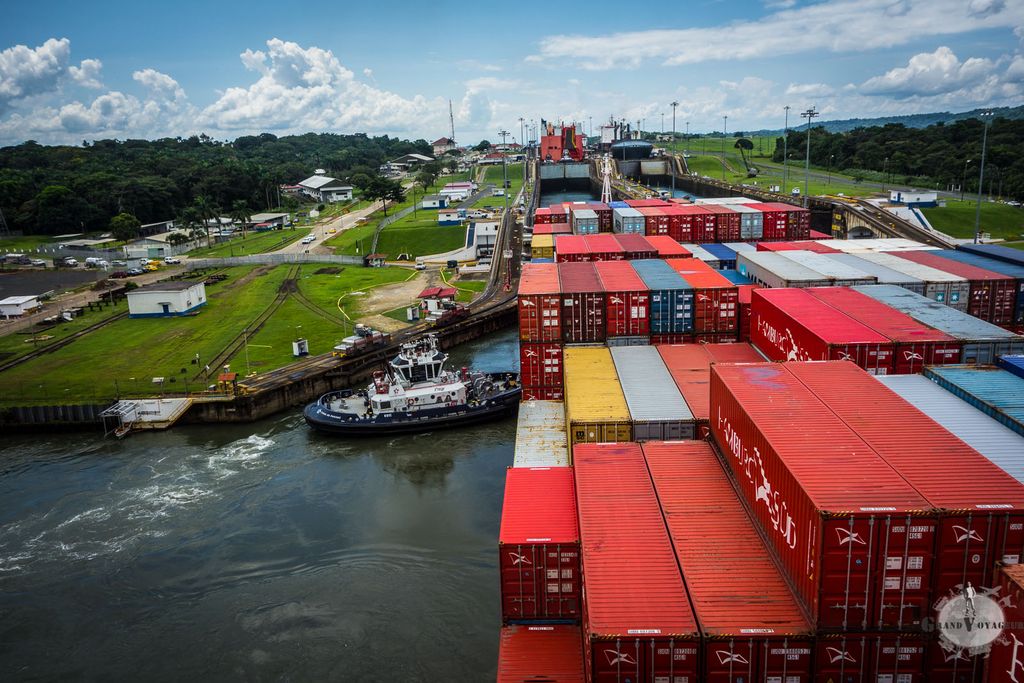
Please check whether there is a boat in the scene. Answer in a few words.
Yes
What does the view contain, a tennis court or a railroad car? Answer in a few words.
railroad car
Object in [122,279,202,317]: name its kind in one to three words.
building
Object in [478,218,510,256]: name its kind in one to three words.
building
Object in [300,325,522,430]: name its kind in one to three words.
boat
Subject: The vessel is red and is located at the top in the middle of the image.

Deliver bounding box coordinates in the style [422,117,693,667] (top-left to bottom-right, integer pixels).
[540,117,589,161]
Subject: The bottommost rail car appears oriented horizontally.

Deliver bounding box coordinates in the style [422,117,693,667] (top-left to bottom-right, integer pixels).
[335,327,393,355]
